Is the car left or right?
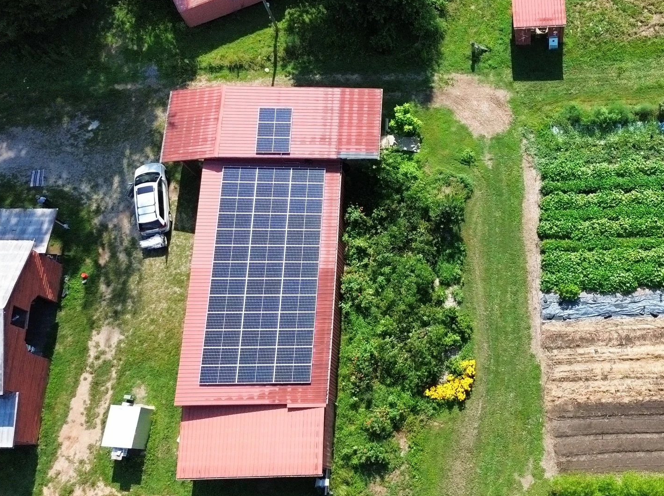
left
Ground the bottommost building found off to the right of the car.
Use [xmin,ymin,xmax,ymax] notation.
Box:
[159,78,385,481]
